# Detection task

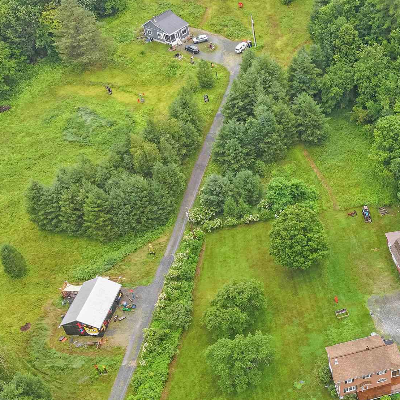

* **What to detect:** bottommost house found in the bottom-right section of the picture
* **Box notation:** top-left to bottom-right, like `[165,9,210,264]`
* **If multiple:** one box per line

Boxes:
[326,335,400,400]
